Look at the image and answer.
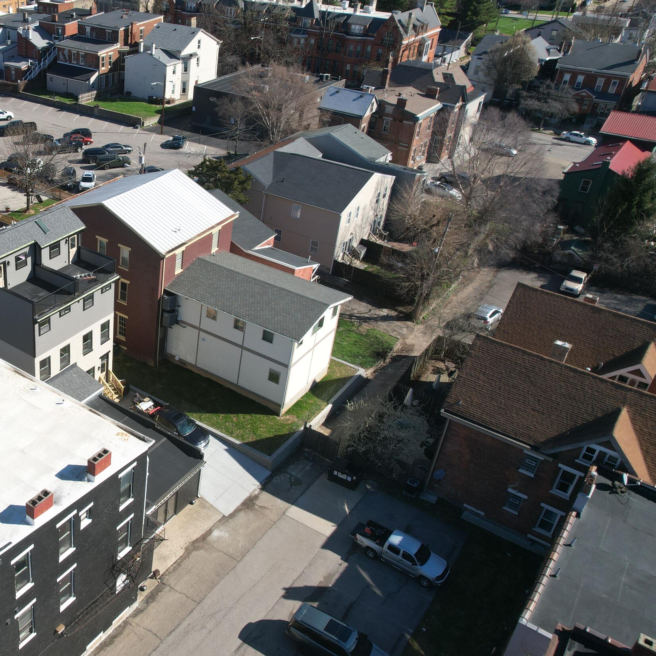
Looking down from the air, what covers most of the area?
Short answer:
buildings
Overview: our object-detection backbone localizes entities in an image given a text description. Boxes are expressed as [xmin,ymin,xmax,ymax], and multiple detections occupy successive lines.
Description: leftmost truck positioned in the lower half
[134,391,208,441]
